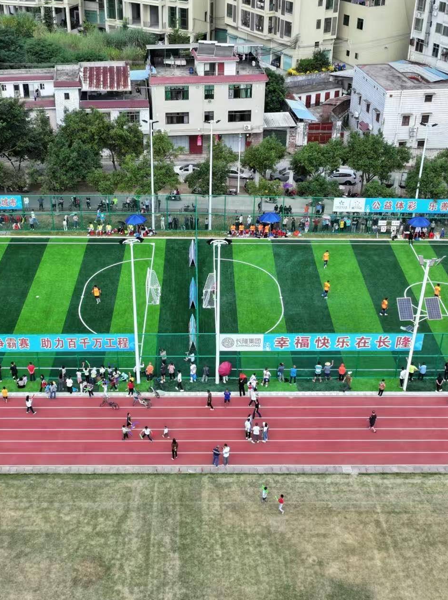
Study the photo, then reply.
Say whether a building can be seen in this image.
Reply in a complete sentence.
Yes, this view includes a building.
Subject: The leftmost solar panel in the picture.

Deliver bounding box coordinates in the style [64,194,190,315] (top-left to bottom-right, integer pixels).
[395,297,412,321]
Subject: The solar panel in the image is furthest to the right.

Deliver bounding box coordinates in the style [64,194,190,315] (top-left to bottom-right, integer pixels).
[425,297,443,321]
